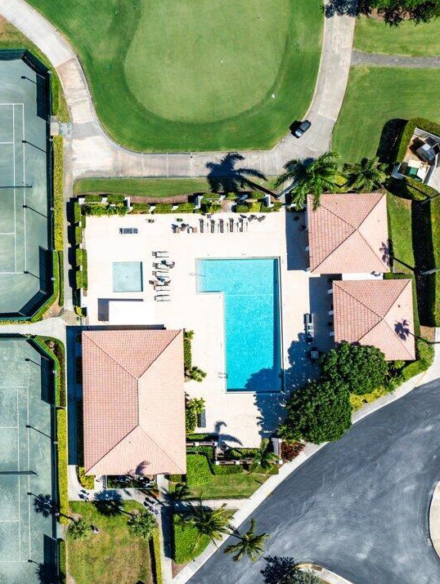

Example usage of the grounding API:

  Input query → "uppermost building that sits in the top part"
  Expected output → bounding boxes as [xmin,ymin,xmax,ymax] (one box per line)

[298,193,390,274]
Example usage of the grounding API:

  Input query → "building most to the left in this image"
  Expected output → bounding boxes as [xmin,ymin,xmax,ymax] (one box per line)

[82,329,187,476]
